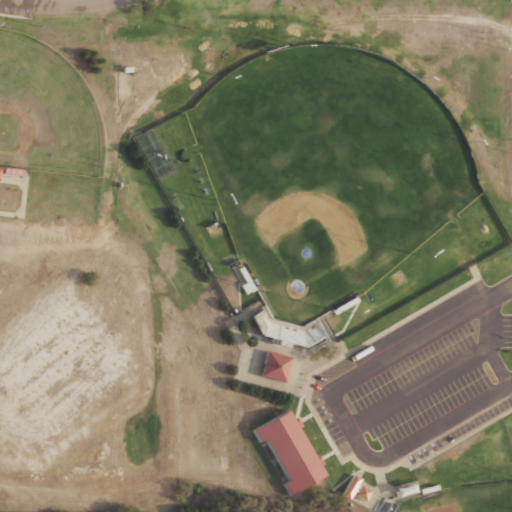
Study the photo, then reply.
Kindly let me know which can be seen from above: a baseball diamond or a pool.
baseball diamond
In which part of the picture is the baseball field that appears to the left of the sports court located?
top left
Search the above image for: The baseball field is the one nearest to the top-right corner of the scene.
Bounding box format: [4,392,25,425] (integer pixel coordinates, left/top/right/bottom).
[188,44,482,326]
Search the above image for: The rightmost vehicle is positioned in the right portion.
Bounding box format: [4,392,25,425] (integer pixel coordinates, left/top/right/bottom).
[350,346,376,362]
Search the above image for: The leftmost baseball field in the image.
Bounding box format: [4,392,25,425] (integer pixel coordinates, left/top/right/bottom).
[0,28,106,179]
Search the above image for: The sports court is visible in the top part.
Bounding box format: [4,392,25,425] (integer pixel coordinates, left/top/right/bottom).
[134,129,178,180]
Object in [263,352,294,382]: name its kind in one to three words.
building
